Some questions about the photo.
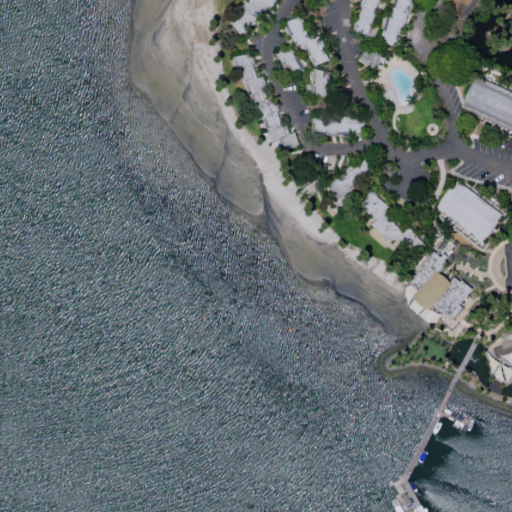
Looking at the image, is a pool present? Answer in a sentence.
Yes, there's a pool here.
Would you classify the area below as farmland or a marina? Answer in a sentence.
The picture captures a marina.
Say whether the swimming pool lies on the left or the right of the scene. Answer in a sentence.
You can find the swimming pool on the right side of the picture.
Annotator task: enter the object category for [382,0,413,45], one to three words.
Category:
house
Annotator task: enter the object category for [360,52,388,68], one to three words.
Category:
building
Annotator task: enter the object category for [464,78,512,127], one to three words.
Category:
building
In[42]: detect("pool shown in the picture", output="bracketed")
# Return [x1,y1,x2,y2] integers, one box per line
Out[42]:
[374,57,417,114]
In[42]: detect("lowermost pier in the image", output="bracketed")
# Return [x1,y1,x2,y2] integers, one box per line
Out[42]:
[390,480,425,512]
